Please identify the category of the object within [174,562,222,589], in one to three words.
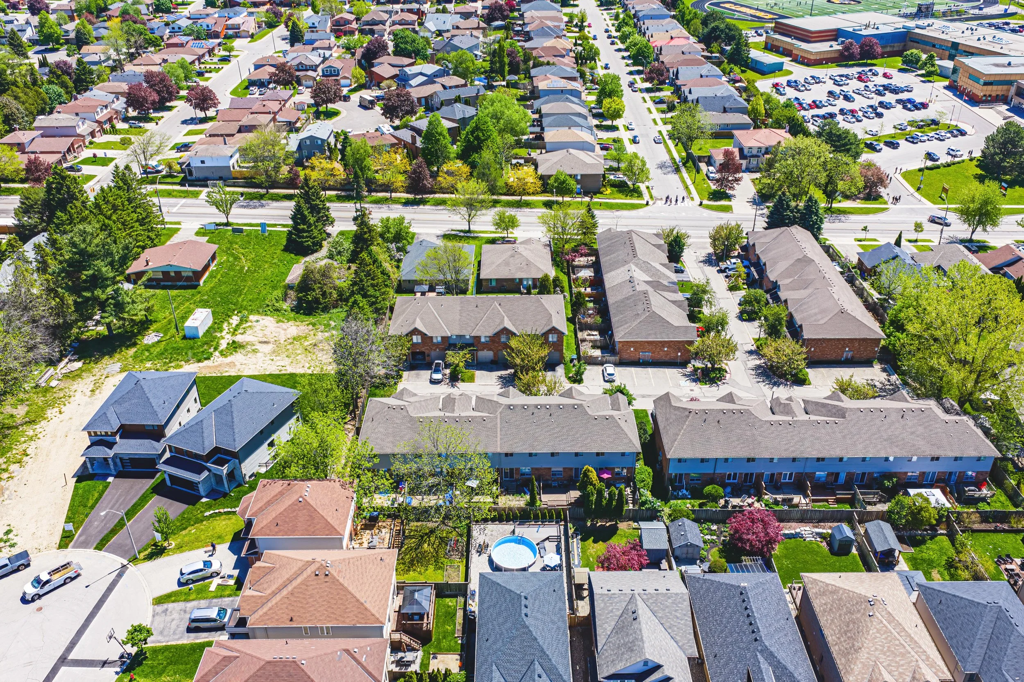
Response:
car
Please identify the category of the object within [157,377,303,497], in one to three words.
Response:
house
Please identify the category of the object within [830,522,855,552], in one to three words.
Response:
shed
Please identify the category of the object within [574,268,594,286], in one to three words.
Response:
gazebo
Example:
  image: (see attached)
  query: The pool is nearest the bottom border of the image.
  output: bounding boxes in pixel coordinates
[490,528,539,572]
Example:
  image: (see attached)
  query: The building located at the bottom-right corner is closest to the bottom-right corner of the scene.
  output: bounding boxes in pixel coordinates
[913,580,1024,682]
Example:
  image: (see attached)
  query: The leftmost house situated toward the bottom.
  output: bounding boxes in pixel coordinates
[81,371,196,475]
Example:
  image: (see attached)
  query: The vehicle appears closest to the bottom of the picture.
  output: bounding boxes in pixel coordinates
[184,609,227,636]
